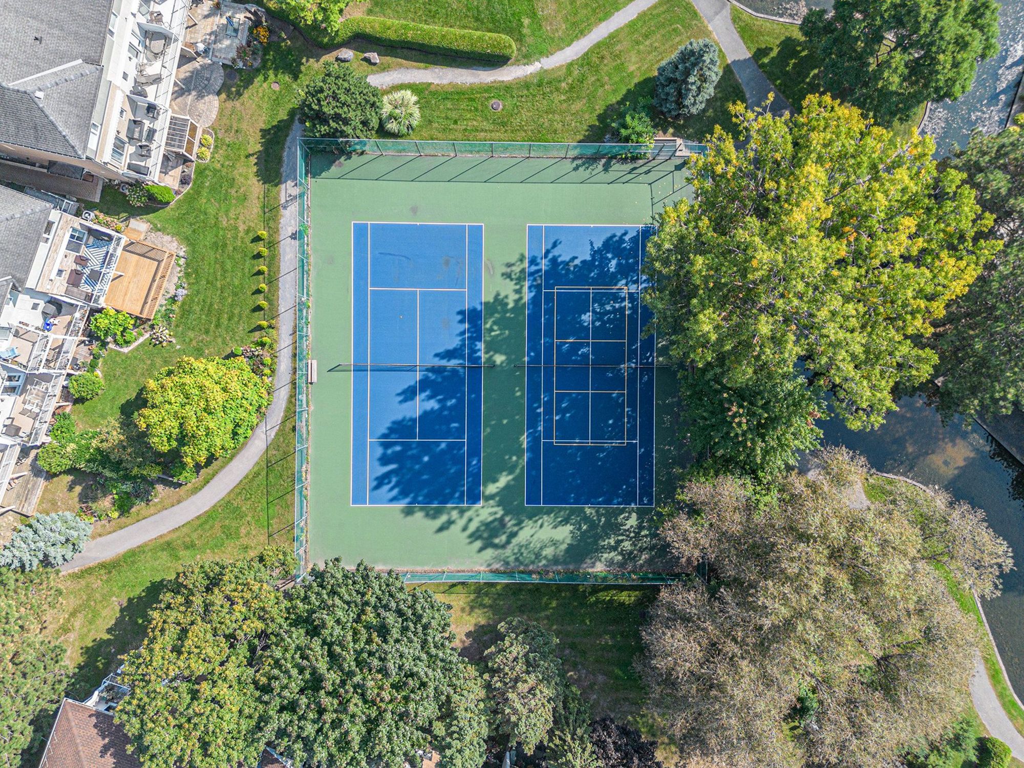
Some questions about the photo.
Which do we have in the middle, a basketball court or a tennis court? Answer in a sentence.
What appears in the middle is a tennis court.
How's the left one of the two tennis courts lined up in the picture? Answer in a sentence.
The left one of the two tennis courts is laid out vertically.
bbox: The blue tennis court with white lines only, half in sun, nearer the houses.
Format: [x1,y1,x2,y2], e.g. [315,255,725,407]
[351,222,484,506]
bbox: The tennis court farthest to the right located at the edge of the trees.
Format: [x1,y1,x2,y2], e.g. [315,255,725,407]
[525,224,657,507]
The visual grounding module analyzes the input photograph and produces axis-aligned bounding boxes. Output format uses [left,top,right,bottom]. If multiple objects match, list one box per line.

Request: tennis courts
[525,224,657,507]
[351,222,484,506]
